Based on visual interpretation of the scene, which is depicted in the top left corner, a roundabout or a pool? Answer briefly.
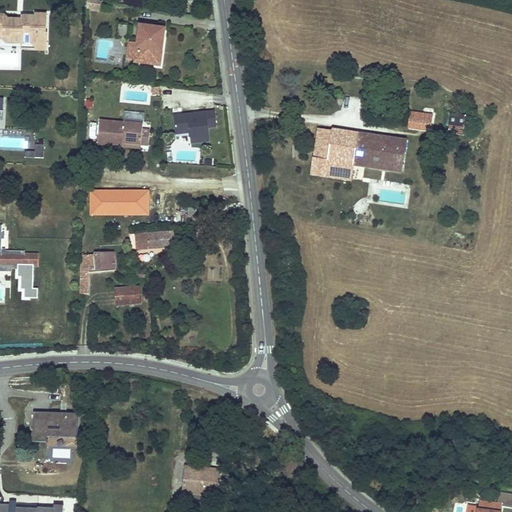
pool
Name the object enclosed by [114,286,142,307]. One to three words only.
building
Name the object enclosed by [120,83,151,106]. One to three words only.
swimming pool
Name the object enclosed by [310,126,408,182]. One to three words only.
house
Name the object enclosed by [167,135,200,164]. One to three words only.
swimming pool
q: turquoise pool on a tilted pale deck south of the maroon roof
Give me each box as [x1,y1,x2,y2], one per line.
[368,178,410,208]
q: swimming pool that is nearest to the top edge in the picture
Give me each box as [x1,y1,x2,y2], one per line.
[93,38,125,68]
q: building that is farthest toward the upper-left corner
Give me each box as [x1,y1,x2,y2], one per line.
[0,11,48,72]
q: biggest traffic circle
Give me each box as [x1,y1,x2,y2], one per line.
[222,346,294,432]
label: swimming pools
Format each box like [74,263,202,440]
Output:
[93,38,125,68]
[0,271,10,304]
[368,178,410,208]
[454,503,466,512]
[0,129,46,158]
[120,83,151,106]
[167,135,200,164]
